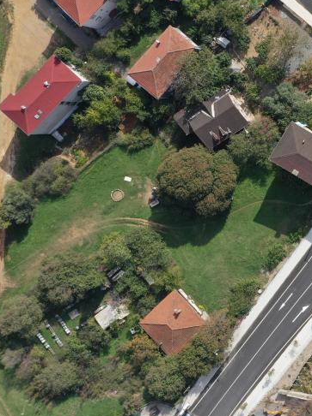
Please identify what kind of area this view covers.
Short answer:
residential area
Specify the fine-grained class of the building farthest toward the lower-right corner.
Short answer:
residential house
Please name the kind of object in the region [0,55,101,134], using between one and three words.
house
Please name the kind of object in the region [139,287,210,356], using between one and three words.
house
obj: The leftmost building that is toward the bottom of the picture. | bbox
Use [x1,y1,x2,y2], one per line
[93,303,136,329]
